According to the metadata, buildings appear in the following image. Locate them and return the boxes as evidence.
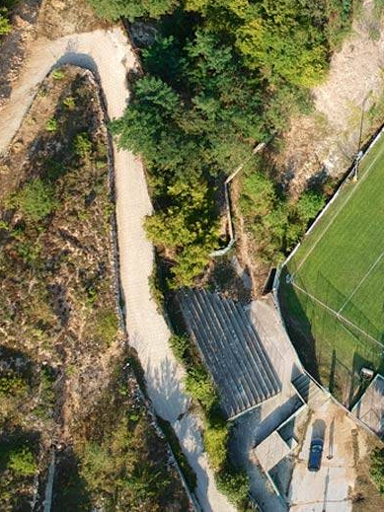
[254,429,291,472]
[351,374,384,437]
